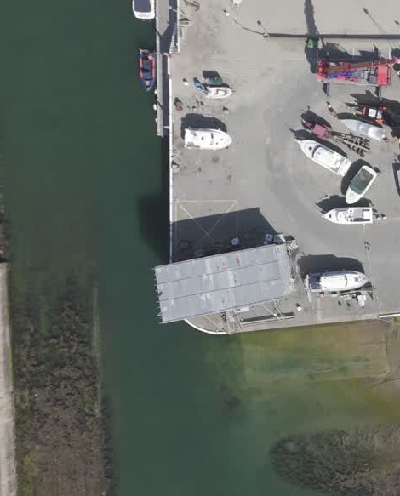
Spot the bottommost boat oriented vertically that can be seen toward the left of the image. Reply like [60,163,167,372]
[137,44,155,90]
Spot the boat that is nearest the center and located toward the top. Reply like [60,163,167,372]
[185,130,234,150]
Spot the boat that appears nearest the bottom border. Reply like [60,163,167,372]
[301,271,367,295]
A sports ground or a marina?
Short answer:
marina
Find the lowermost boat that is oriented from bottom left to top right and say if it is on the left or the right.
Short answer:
right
